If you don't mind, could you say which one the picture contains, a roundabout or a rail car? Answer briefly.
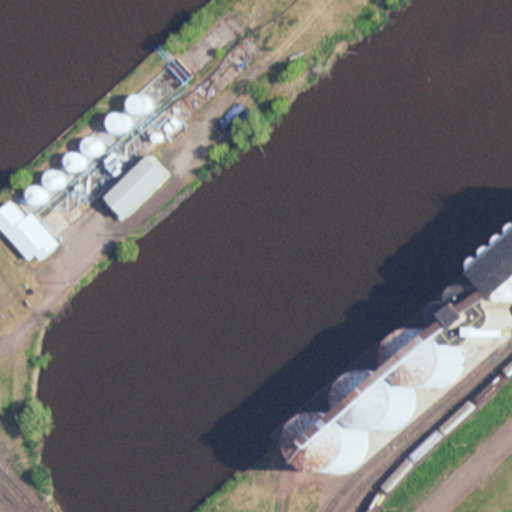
rail car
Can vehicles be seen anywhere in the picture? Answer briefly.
Yes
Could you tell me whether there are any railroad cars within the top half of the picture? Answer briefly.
No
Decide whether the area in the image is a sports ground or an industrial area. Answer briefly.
industrial area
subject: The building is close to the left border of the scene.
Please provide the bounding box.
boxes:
[0,201,62,261]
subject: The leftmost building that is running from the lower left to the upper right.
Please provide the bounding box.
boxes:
[104,156,172,220]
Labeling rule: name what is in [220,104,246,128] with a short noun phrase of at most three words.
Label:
truck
